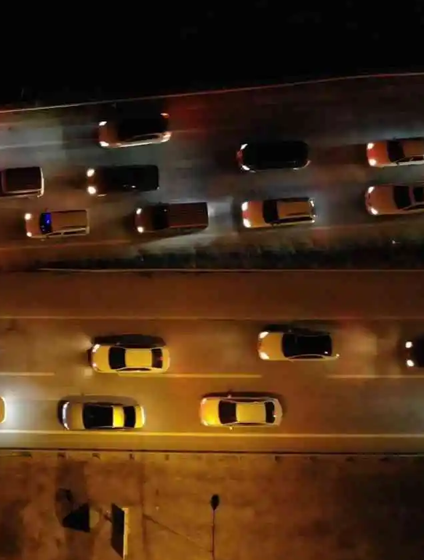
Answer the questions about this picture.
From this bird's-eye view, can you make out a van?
Yes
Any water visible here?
No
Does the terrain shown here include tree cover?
No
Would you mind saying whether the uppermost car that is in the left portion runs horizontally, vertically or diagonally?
horizontally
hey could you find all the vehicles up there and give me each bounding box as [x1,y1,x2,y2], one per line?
[235,136,310,173]
[98,112,175,151]
[361,178,424,217]
[86,158,158,197]
[401,335,424,367]
[199,391,286,431]
[91,338,174,377]
[134,198,207,234]
[256,325,344,363]
[240,193,317,229]
[0,161,47,199]
[59,396,147,435]
[365,132,424,170]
